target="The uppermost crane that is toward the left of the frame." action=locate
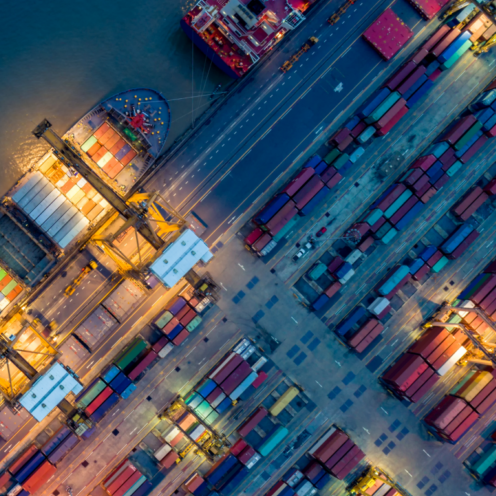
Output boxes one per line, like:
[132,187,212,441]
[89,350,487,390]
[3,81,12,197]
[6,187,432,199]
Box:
[31,117,222,303]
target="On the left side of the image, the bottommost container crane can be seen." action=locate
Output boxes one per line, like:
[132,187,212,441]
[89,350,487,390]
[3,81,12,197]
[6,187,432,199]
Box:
[157,395,233,468]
